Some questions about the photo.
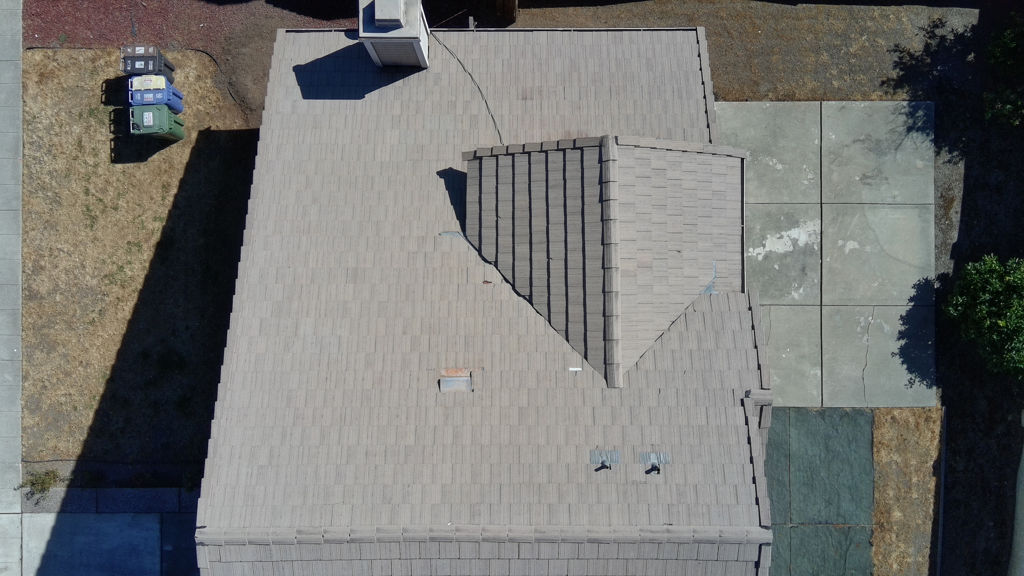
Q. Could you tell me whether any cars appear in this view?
No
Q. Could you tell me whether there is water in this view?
No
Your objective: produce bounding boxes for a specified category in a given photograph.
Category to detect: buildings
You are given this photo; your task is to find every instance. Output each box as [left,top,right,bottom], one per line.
[193,0,775,576]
